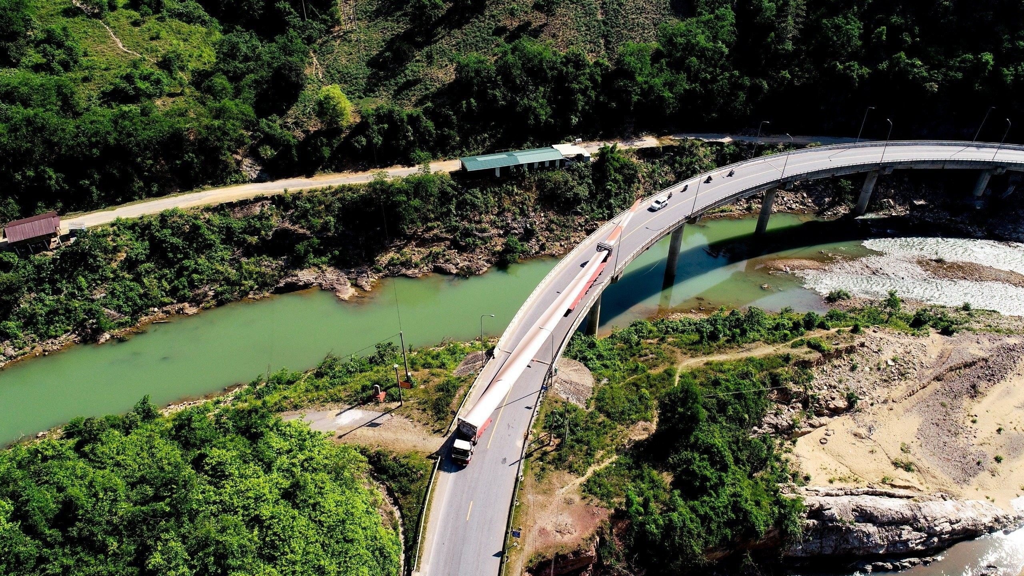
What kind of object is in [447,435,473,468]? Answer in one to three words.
truck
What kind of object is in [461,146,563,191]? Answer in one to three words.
house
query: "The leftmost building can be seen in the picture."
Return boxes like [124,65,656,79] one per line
[1,219,69,262]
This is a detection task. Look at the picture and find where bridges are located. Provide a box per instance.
[491,141,1024,384]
